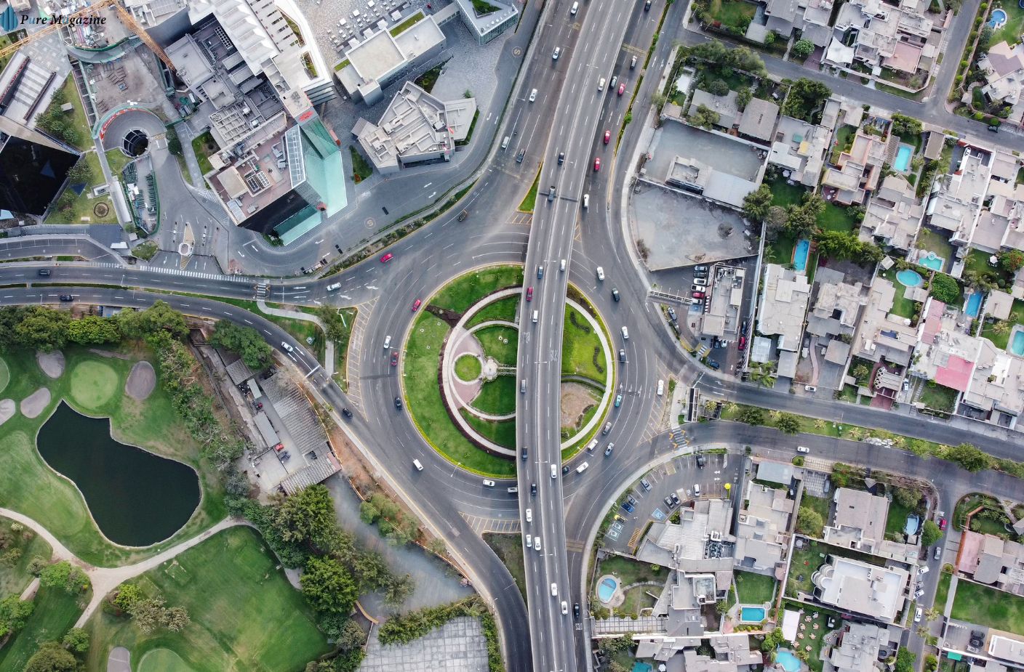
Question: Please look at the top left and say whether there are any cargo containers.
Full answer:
No, looking at the top left, there is no cargo container.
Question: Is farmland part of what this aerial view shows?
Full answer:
No, the scene doesn't show any farmland.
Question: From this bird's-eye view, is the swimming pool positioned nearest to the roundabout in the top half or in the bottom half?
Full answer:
The swimming pool positioned nearest to the roundabout is in the bottom half of the image.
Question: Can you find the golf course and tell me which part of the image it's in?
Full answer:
The golf course is in the bottom left part of the image.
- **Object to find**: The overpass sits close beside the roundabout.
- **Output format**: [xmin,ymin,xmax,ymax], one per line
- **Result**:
[516,0,635,672]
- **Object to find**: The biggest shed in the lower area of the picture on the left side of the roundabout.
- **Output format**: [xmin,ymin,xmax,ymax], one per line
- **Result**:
[216,348,345,494]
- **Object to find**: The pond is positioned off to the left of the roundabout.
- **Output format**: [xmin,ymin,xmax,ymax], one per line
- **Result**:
[35,399,201,548]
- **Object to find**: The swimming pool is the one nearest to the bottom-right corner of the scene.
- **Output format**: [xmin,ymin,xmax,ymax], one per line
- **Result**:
[903,514,921,535]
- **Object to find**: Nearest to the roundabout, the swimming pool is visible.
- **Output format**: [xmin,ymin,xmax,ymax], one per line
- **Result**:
[594,574,621,607]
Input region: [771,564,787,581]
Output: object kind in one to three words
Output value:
gazebo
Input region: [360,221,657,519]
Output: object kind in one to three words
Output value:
roundabout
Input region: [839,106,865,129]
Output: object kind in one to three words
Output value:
house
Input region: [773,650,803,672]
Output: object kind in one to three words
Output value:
swimming pool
